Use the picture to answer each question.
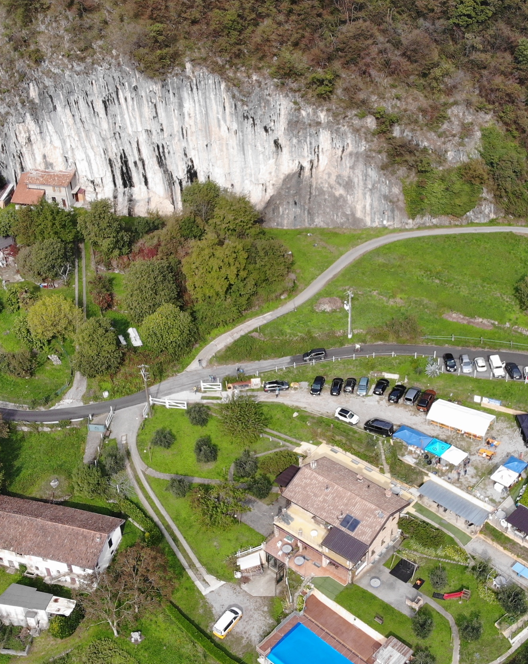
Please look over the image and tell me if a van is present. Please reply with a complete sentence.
Yes, a van can be made out from above.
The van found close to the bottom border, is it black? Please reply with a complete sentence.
No, the color of the van found close to the bottom border is white.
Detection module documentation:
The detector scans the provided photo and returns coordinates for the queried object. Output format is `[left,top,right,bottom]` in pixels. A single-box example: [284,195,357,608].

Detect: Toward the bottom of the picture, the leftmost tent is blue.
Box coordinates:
[394,425,434,452]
